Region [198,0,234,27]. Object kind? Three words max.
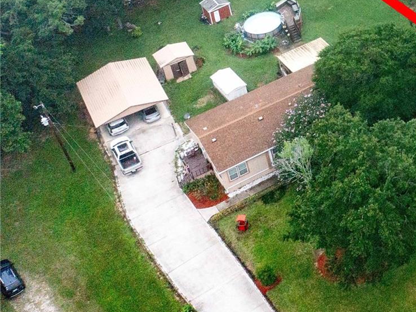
shed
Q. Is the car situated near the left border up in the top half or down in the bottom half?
bottom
